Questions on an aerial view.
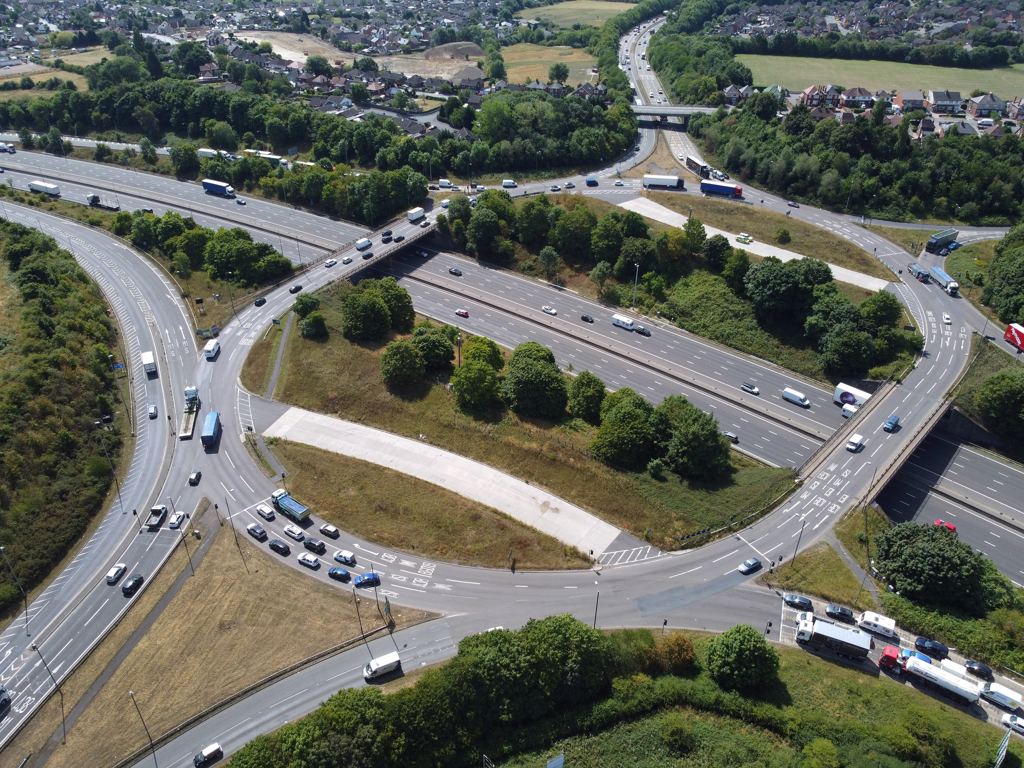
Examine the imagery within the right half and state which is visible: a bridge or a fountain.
bridge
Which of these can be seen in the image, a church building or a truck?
truck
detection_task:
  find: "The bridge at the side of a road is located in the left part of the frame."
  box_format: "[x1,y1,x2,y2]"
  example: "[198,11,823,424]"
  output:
[281,205,449,295]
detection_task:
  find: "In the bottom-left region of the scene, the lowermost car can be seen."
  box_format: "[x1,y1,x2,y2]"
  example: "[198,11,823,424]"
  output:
[194,744,222,767]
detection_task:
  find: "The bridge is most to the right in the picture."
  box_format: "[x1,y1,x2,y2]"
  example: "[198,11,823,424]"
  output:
[779,362,969,532]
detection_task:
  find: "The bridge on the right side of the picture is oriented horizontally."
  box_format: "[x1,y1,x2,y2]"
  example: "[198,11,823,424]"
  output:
[628,102,741,128]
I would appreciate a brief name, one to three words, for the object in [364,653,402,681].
van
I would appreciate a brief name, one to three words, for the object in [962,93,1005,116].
house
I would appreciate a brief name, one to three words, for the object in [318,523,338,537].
car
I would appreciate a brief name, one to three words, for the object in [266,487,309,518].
truck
